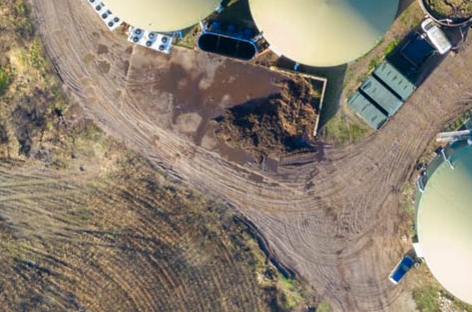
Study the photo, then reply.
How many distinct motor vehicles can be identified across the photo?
2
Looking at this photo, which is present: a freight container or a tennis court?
freight container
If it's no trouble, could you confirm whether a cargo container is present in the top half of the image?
Yes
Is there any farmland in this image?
Yes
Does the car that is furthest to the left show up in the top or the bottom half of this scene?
bottom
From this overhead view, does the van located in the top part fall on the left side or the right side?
right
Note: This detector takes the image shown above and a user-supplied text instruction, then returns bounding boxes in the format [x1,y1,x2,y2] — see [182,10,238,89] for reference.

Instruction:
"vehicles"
[387,252,414,283]
[417,18,453,56]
